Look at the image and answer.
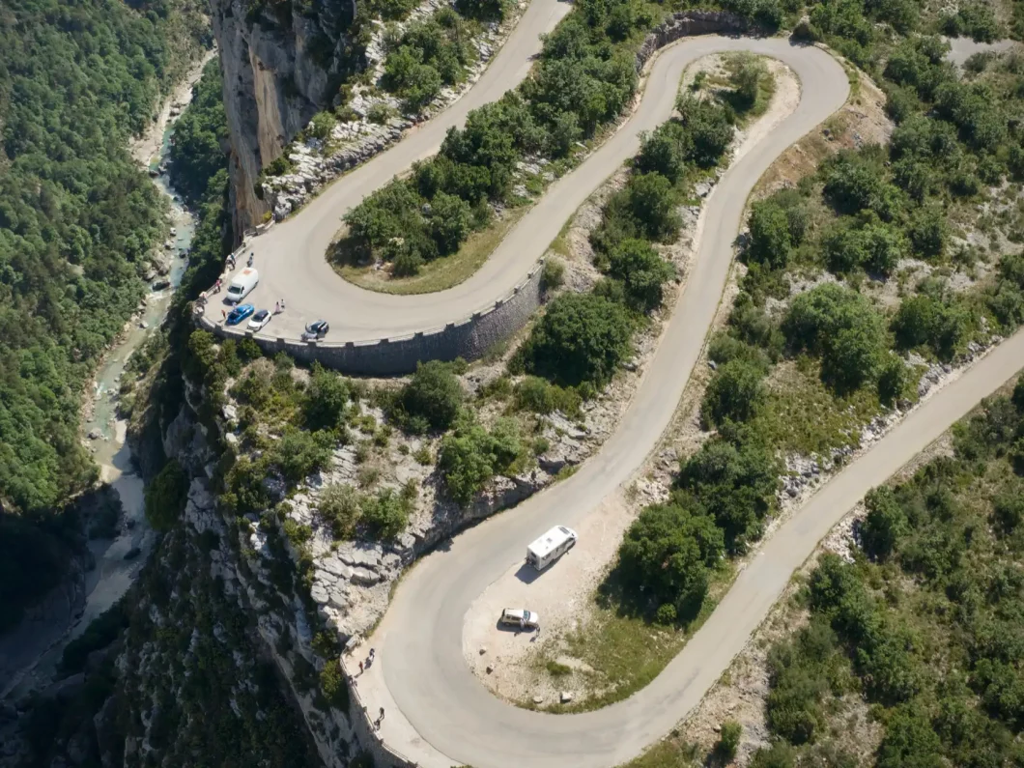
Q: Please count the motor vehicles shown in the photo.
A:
six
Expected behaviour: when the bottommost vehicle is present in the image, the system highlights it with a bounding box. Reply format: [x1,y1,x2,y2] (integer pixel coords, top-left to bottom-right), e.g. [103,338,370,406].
[501,605,539,627]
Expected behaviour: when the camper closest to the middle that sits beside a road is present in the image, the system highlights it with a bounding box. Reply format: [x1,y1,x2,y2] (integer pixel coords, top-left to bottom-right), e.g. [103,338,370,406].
[526,529,576,569]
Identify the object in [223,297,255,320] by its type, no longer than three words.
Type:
car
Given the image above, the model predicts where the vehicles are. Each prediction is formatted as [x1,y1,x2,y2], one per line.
[223,297,255,320]
[246,304,274,329]
[501,605,539,627]
[228,263,261,300]
[299,313,329,338]
[526,529,576,569]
